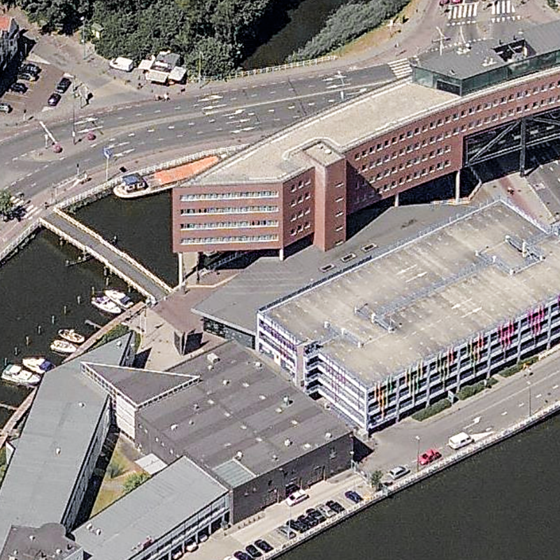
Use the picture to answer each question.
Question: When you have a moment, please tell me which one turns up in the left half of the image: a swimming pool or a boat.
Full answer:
The feature located in the left half of the image is a boat.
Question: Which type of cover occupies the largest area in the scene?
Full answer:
The bulk of the photo consists of buildings.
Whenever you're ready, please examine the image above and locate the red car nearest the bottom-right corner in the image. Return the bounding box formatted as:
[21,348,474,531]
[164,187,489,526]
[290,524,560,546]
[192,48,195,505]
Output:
[418,451,440,465]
